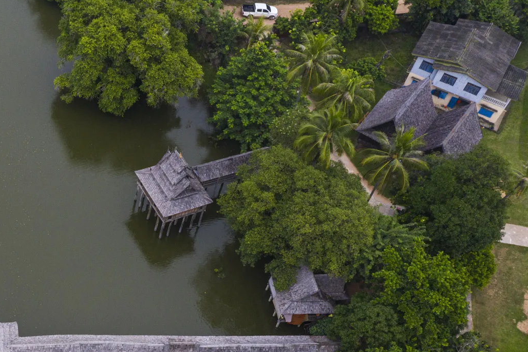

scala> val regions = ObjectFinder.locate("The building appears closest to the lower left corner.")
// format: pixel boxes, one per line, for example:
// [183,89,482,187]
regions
[135,144,213,237]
